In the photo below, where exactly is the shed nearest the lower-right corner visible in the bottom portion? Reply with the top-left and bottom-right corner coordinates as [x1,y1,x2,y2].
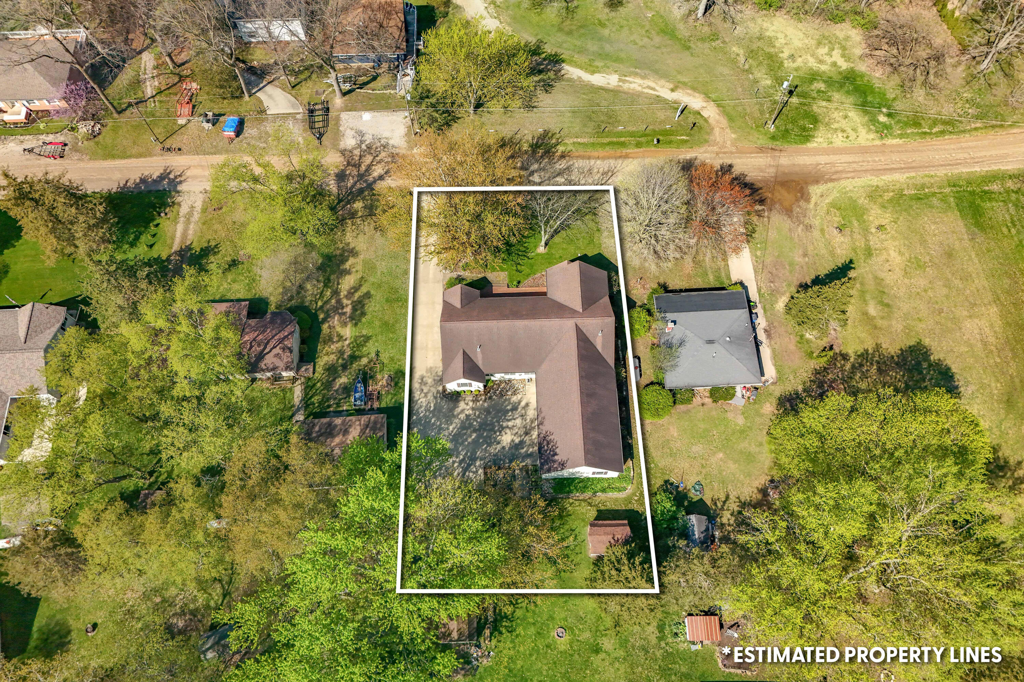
[683,617,721,641]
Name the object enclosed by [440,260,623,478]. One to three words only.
house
